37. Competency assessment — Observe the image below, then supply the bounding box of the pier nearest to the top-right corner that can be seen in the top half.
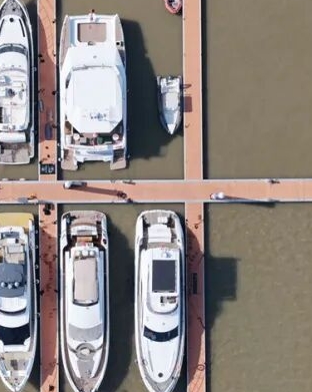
[183,0,203,180]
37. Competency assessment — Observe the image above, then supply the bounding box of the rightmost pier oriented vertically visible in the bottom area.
[185,202,206,392]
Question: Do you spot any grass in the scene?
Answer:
No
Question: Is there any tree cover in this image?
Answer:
No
